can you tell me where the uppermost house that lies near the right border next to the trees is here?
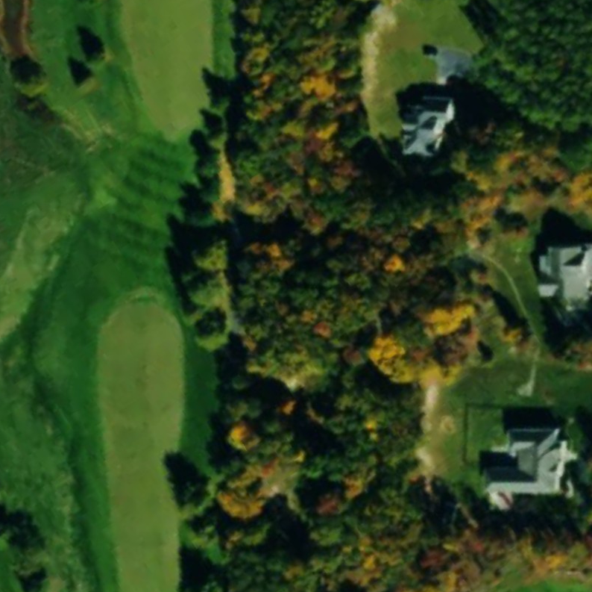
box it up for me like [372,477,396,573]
[540,248,592,303]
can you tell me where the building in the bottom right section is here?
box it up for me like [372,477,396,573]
[486,431,575,508]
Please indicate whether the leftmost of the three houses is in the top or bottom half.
top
